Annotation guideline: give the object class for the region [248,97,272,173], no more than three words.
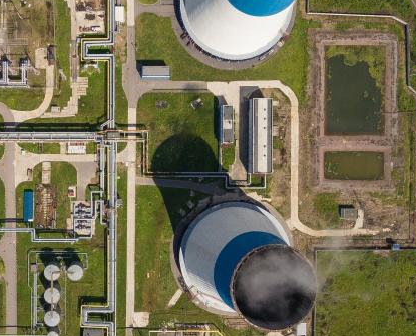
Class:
building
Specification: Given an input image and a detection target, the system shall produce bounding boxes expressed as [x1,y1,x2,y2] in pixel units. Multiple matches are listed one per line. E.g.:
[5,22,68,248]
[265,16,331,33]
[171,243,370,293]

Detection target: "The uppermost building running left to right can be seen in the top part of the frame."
[142,65,170,77]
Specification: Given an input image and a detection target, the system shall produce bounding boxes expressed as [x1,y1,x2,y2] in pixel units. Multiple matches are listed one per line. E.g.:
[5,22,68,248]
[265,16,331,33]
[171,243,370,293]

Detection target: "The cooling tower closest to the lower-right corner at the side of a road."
[169,190,319,332]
